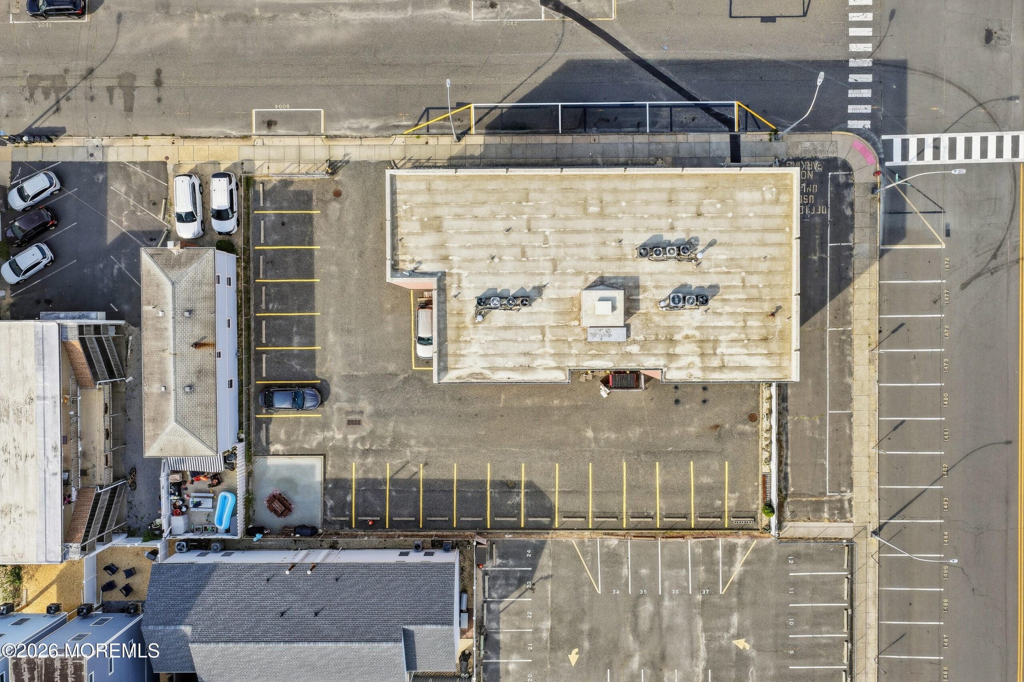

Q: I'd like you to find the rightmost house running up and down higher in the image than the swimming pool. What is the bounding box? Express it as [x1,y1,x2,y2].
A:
[141,239,238,459]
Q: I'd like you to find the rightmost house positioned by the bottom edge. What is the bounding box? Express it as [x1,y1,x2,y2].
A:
[141,549,460,682]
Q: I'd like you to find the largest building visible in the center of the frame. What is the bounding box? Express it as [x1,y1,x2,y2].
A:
[385,166,801,384]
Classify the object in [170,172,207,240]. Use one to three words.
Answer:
car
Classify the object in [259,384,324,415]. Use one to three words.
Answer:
car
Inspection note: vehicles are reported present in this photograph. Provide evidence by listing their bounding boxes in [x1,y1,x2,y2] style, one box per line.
[204,170,240,236]
[26,0,91,21]
[170,172,207,240]
[0,242,60,285]
[410,303,434,362]
[6,170,66,214]
[3,204,63,248]
[259,384,324,415]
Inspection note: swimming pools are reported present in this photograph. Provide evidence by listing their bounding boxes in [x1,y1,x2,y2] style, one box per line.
[213,489,237,530]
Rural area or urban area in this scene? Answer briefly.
urban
